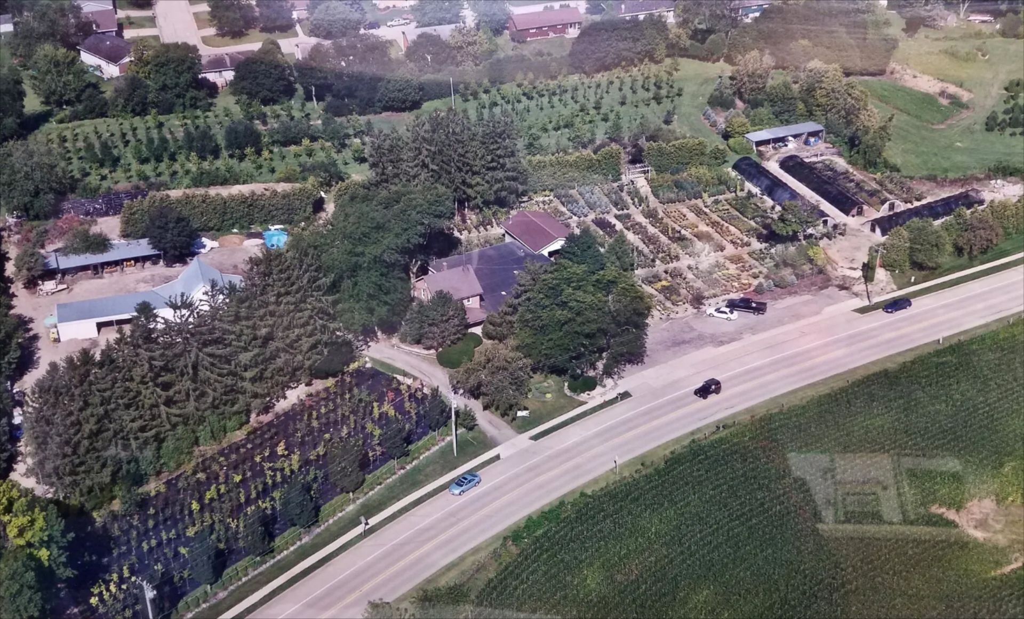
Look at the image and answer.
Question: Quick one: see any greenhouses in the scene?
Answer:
Yes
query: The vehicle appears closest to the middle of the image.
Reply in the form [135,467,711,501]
[447,470,484,496]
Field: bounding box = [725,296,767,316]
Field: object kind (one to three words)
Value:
vehicle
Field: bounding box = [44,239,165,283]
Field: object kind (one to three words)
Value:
shed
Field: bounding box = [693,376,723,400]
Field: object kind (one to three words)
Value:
car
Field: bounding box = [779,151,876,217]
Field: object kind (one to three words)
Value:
greenhouse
